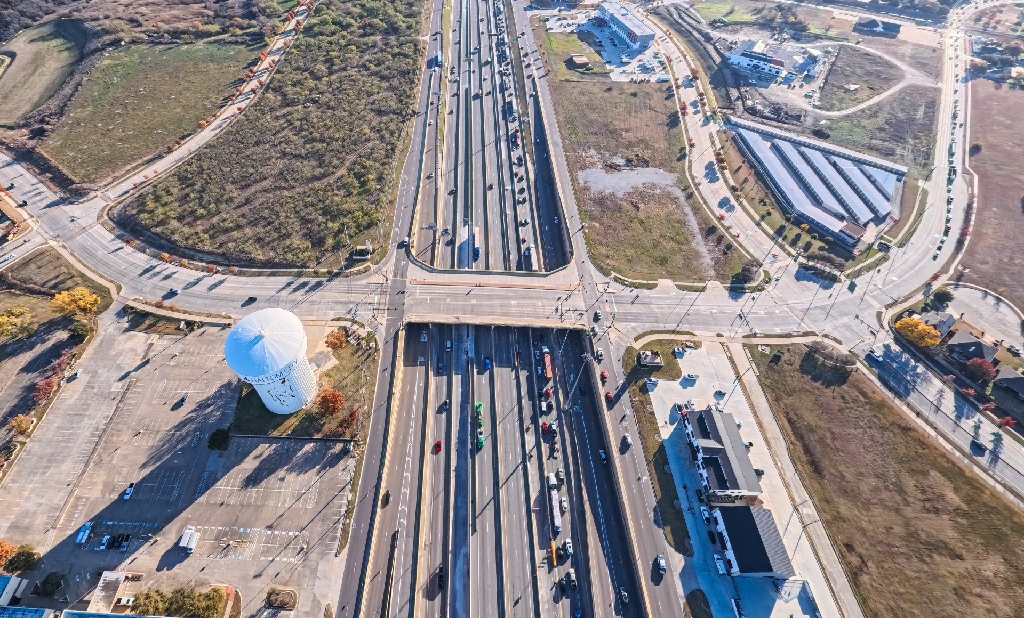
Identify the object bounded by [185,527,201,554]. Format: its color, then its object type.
white vehicle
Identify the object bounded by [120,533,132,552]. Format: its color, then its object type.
blue vehicle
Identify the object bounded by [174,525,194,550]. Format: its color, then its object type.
white vehicle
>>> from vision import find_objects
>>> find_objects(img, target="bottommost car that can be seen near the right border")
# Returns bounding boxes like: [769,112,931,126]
[971,439,987,451]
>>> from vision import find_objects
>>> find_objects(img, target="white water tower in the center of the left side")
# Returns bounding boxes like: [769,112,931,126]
[225,309,319,415]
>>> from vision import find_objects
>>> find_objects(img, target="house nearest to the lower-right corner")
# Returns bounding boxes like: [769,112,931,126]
[992,365,1024,409]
